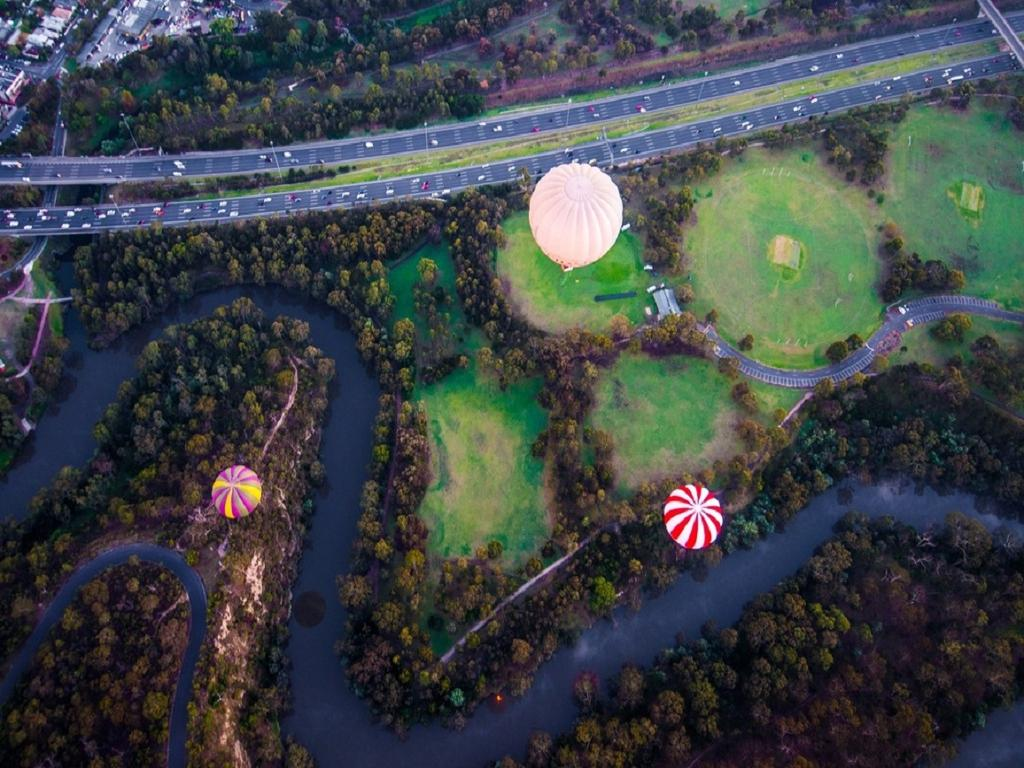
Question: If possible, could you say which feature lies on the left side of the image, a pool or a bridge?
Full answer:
You can see a bridge on the left side of the image.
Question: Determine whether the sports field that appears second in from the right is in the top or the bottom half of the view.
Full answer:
You can find the sports field that appears second in from the right in the top half.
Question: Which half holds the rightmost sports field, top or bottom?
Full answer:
Seen from above, the rightmost sports field lies in the top half of the view.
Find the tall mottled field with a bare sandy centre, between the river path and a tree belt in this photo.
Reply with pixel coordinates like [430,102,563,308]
[420,362,550,569]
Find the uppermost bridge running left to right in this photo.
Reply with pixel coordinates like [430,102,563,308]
[0,150,208,190]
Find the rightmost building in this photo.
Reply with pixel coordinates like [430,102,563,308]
[651,289,681,318]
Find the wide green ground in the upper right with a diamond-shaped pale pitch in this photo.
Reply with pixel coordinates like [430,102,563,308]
[880,103,1024,300]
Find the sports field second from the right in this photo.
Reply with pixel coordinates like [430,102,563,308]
[686,147,882,357]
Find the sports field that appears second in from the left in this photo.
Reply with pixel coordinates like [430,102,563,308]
[497,213,648,334]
